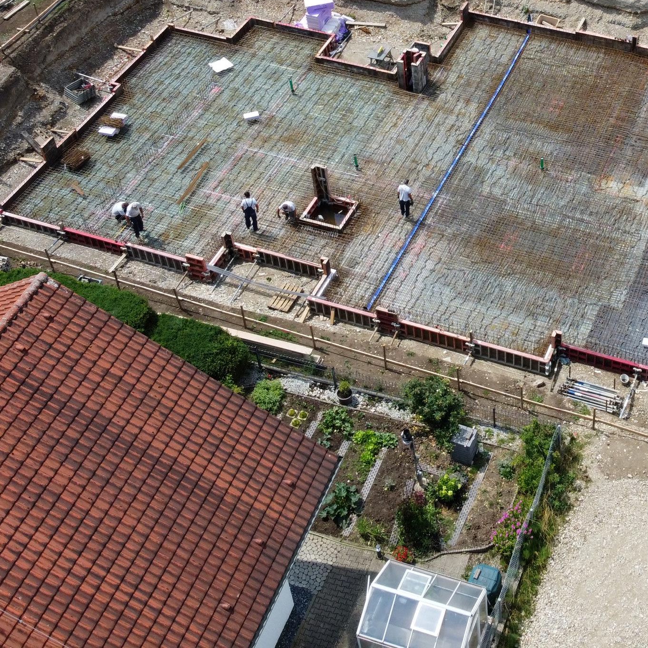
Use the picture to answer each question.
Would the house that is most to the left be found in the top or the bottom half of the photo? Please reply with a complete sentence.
The house that is most to the left is in the bottom half of the image.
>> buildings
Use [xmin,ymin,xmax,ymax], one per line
[0,273,349,648]
[356,559,489,648]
